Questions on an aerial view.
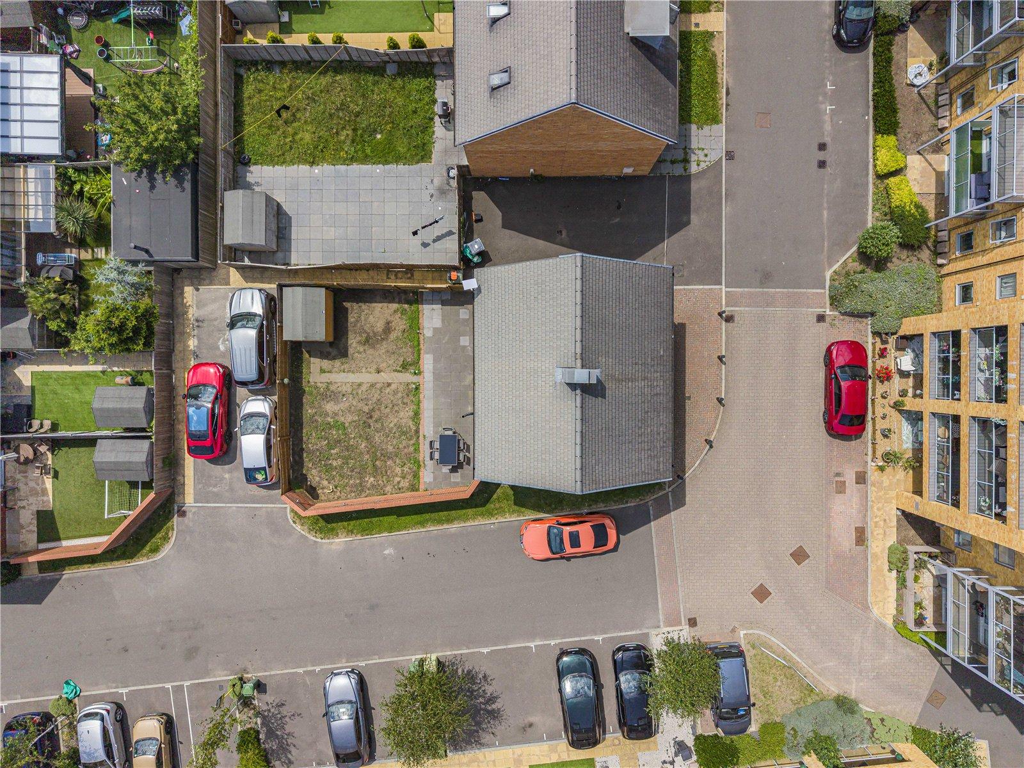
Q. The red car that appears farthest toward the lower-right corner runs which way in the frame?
vertically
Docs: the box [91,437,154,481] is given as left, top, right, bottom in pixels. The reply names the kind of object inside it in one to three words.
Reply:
shed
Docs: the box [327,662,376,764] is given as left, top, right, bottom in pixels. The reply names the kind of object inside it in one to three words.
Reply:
car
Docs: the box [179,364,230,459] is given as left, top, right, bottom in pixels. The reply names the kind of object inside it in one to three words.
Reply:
car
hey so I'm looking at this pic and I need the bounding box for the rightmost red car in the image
[824,340,874,436]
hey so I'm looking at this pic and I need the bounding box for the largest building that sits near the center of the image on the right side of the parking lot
[471,252,675,494]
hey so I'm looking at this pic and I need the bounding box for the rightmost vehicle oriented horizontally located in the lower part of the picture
[519,516,617,563]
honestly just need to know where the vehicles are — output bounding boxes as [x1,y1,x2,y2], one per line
[233,397,276,483]
[706,637,756,732]
[327,662,376,764]
[560,642,605,746]
[226,288,276,387]
[613,635,658,738]
[519,516,617,563]
[835,0,884,49]
[127,702,180,768]
[179,364,230,459]
[79,689,131,768]
[824,340,874,436]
